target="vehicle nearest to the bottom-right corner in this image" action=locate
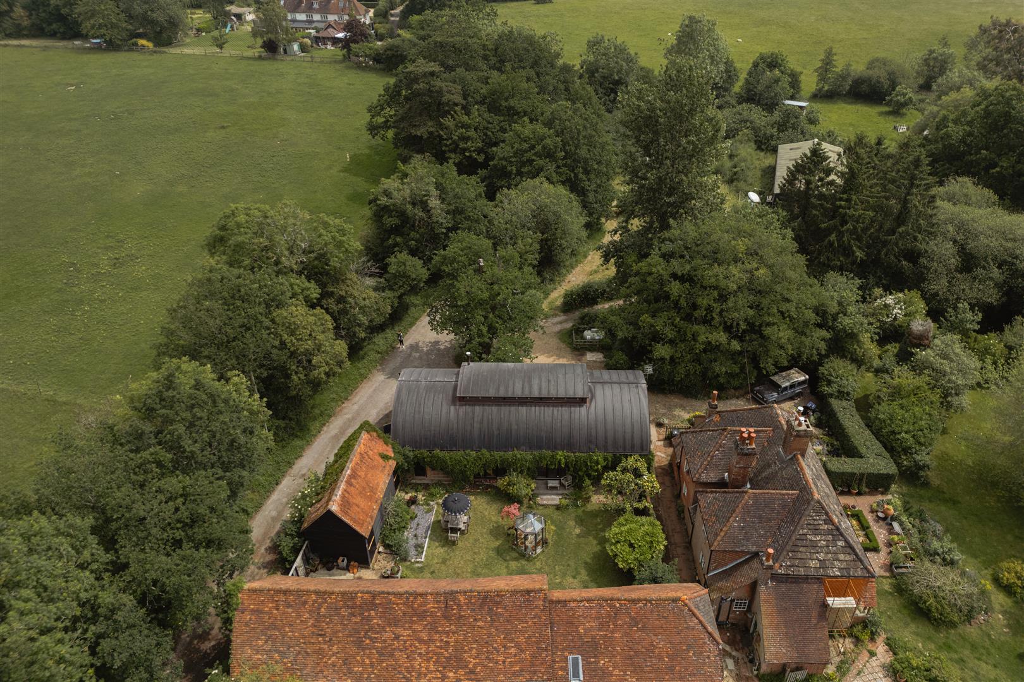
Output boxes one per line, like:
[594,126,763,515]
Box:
[755,366,813,404]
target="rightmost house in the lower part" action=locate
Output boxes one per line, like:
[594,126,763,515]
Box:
[665,385,881,682]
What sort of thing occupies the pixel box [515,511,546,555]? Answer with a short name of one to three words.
greenhouse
